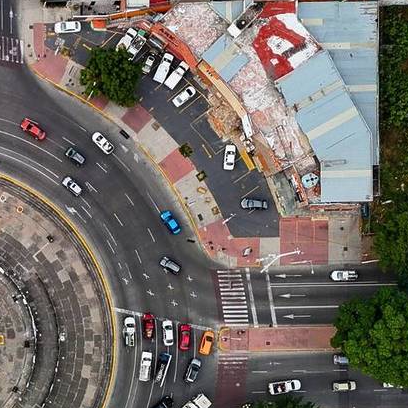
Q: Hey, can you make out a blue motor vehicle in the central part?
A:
Yes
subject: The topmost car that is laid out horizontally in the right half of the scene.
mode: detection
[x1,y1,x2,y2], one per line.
[242,197,268,209]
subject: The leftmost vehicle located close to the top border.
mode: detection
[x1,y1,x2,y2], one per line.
[55,19,81,32]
